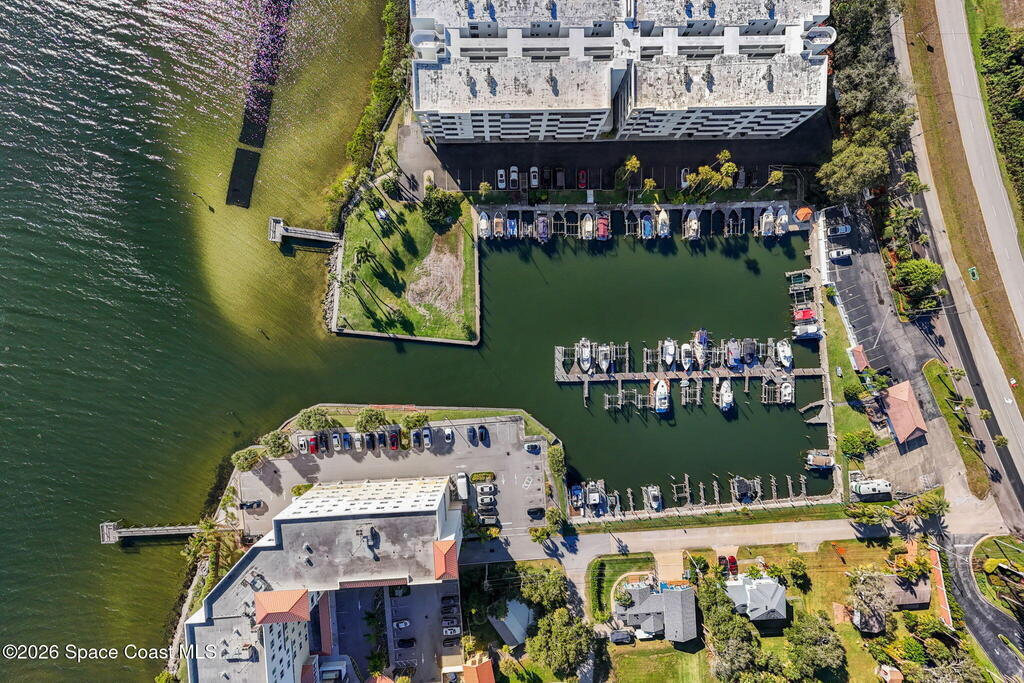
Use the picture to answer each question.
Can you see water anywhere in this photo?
Yes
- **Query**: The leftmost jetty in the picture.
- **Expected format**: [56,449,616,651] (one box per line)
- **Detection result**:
[97,519,210,546]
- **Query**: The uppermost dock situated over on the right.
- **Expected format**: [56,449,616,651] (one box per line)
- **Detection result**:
[470,204,793,237]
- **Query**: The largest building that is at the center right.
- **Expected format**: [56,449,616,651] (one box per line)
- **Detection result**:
[880,380,927,443]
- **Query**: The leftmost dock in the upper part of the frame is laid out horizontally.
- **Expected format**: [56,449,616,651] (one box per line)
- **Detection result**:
[266,216,344,245]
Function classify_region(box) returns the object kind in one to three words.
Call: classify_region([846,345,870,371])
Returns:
building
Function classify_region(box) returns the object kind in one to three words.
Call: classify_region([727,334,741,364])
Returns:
boat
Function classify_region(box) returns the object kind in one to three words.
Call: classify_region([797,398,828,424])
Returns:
pier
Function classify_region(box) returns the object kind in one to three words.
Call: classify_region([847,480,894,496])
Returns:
camper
